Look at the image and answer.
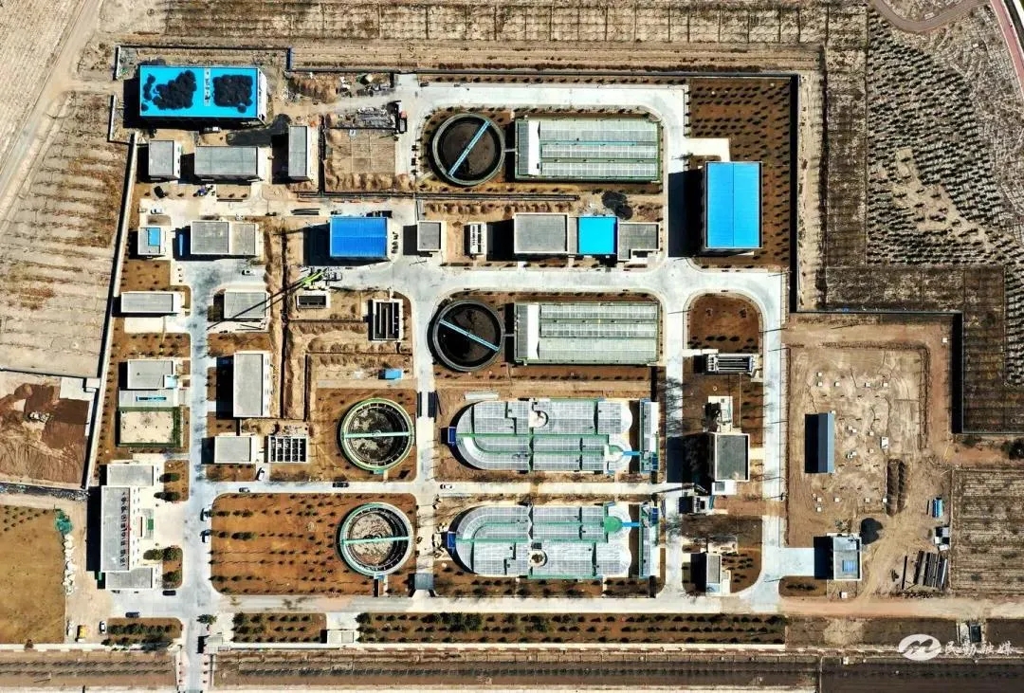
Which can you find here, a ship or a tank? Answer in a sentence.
I can see a tank in this picture.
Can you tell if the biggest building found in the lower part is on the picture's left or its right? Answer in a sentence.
The biggest building found in the lower part appears in the left half of the scene.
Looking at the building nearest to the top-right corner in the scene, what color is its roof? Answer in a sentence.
The color of the roof on the building nearest to the top-right corner is blue.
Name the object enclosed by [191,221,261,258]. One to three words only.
building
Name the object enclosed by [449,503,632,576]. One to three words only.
storage tank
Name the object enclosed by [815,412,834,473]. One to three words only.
shed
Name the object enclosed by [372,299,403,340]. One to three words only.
storage tank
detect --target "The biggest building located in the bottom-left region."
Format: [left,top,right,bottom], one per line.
[101,463,161,589]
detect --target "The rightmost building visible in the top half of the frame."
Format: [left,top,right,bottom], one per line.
[700,161,762,251]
